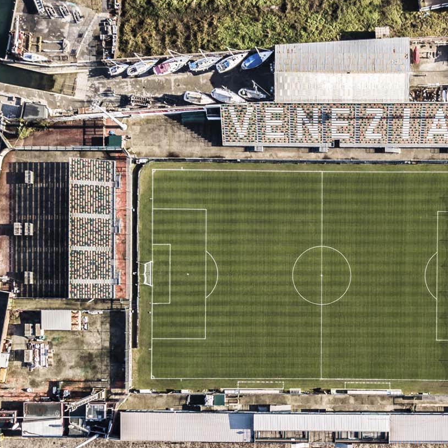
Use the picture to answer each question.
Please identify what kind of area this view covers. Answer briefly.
sports ground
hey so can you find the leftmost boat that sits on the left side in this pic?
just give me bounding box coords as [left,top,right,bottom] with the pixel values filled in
[23,51,48,64]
